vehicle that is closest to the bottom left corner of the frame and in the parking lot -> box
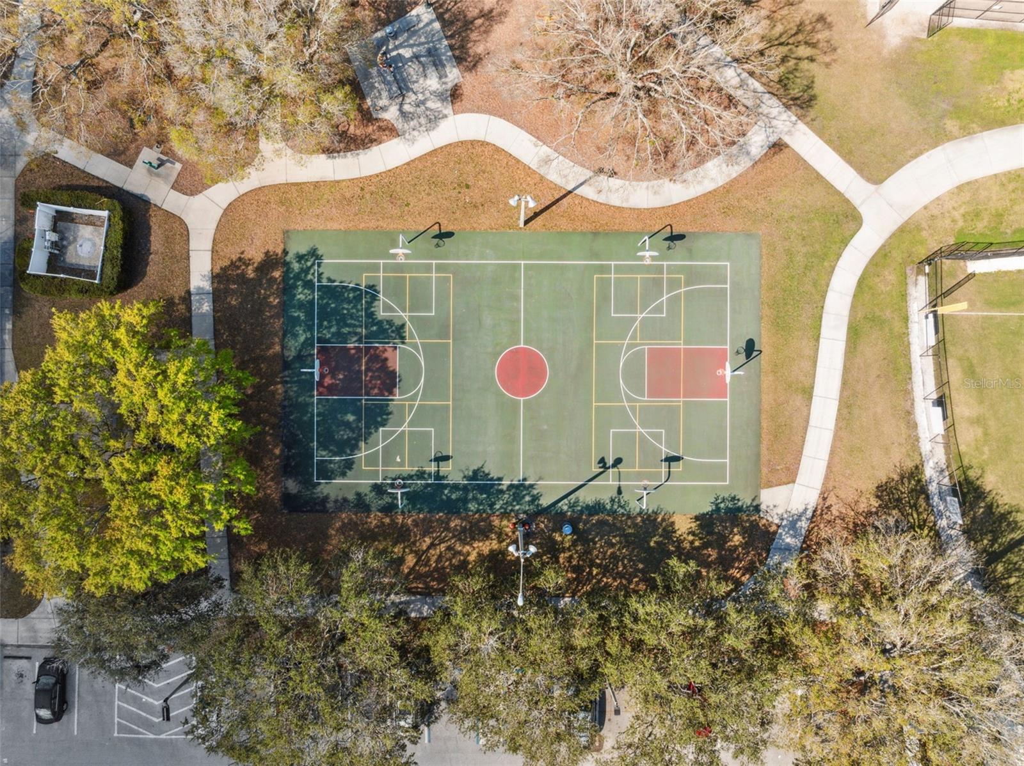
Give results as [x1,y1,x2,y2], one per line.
[30,661,67,727]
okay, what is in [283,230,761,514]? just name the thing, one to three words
basketball court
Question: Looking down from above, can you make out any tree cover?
Yes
